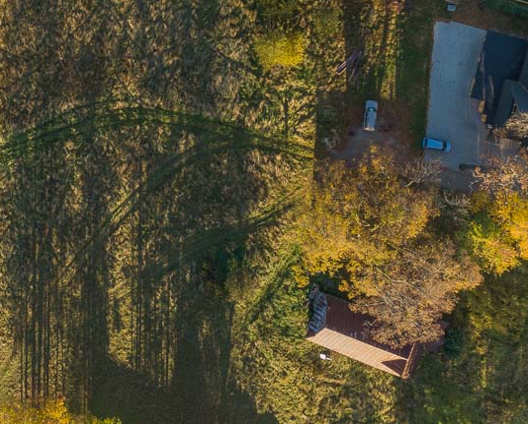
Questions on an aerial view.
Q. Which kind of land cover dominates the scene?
grass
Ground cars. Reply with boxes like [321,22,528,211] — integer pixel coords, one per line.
[364,101,377,131]
[421,136,448,150]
